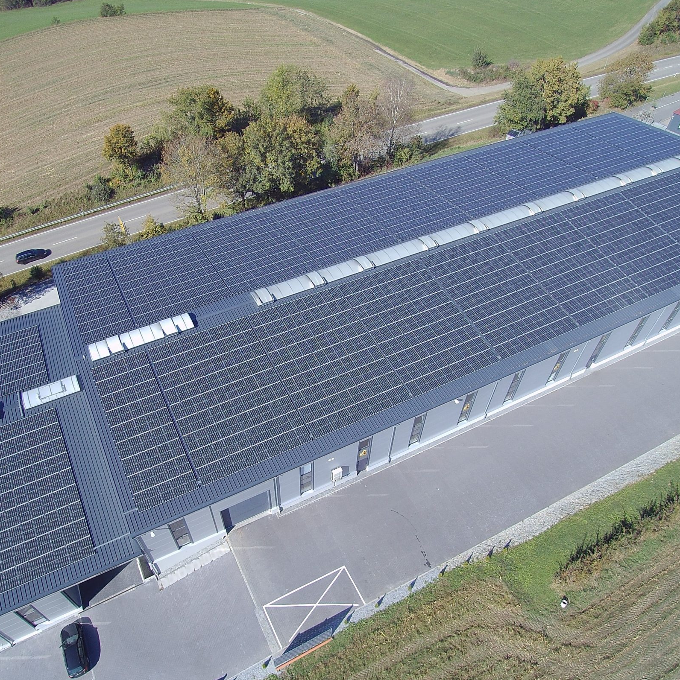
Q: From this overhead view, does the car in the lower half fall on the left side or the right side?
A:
left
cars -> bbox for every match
[58,618,88,679]
[12,247,50,266]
